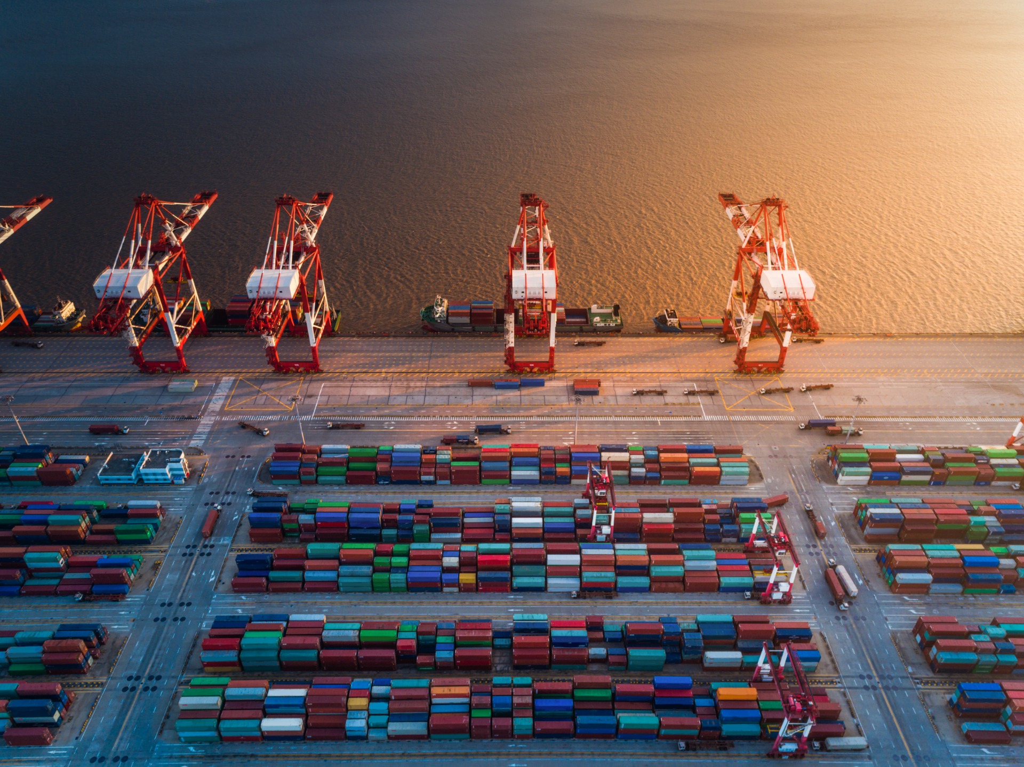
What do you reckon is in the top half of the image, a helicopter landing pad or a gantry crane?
gantry crane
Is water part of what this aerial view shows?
Yes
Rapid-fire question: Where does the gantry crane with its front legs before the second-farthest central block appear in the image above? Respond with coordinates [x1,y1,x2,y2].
[584,457,620,546]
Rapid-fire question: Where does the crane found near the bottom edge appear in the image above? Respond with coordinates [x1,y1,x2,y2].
[748,639,823,763]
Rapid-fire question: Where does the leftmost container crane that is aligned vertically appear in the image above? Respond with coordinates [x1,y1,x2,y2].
[0,191,53,337]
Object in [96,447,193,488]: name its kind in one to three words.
building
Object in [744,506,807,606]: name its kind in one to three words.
container crane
